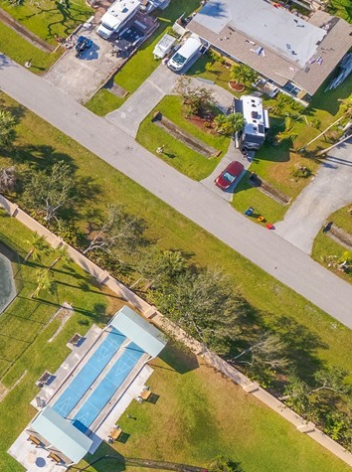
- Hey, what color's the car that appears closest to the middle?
red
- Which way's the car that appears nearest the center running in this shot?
diagonally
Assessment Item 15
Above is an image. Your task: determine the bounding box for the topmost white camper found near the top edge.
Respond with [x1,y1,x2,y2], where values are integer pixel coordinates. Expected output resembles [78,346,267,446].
[98,0,142,39]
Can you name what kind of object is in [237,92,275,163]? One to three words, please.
trailer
